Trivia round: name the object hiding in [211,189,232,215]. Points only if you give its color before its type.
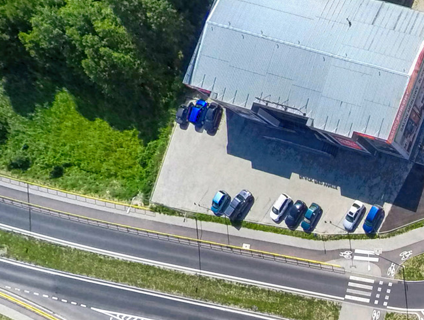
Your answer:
blue car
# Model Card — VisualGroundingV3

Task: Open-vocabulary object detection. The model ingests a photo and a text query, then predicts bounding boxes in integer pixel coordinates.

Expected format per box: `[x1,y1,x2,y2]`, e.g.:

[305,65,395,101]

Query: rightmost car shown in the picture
[363,204,384,233]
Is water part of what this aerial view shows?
No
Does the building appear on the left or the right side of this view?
right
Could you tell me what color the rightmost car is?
blue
